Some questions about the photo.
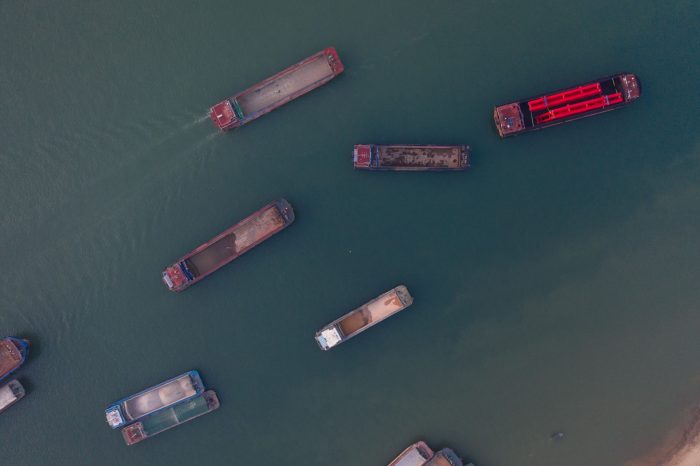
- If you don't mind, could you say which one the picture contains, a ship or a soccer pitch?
ship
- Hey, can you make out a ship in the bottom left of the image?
Yes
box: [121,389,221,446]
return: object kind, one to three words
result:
ship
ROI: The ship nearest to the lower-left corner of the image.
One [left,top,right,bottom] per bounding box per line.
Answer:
[0,378,26,411]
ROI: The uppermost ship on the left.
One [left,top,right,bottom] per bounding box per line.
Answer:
[209,46,344,132]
